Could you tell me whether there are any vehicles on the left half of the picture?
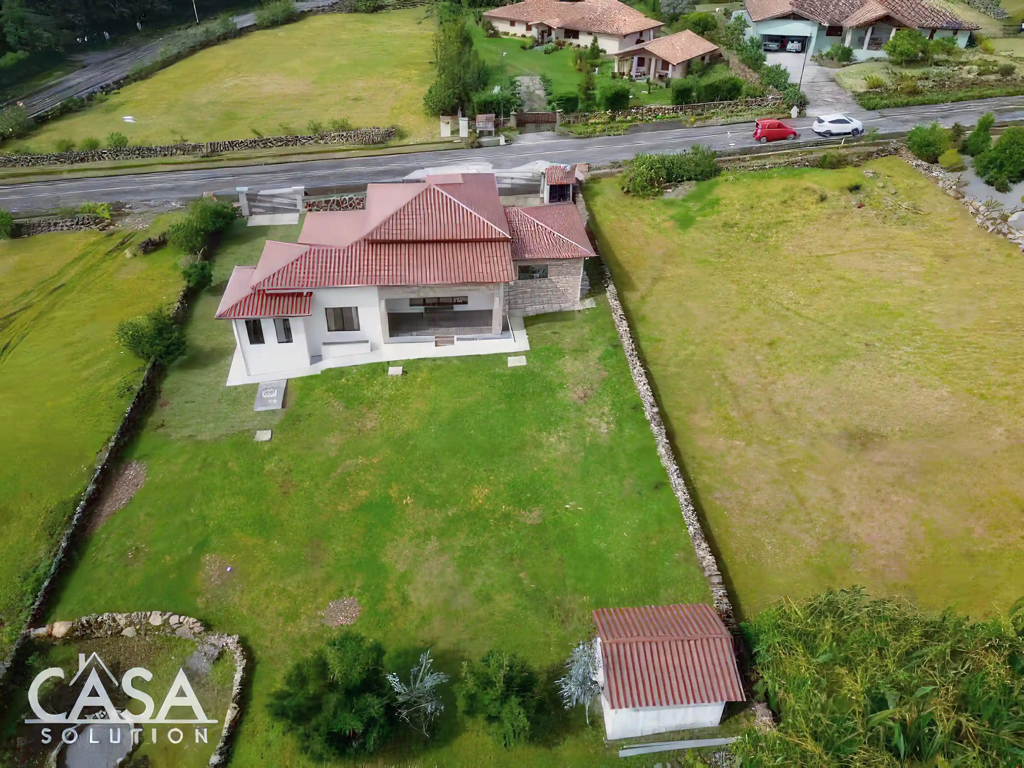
No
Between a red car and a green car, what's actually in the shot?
red car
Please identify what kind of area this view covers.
residential area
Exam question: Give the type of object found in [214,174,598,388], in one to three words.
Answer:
house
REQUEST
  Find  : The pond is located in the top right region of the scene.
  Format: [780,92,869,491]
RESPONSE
[961,143,1024,219]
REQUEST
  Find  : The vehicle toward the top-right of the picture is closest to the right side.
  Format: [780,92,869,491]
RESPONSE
[814,114,871,138]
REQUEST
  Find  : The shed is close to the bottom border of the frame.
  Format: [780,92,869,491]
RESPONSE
[586,602,748,744]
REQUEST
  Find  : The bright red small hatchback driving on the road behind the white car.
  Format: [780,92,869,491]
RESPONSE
[753,119,802,143]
